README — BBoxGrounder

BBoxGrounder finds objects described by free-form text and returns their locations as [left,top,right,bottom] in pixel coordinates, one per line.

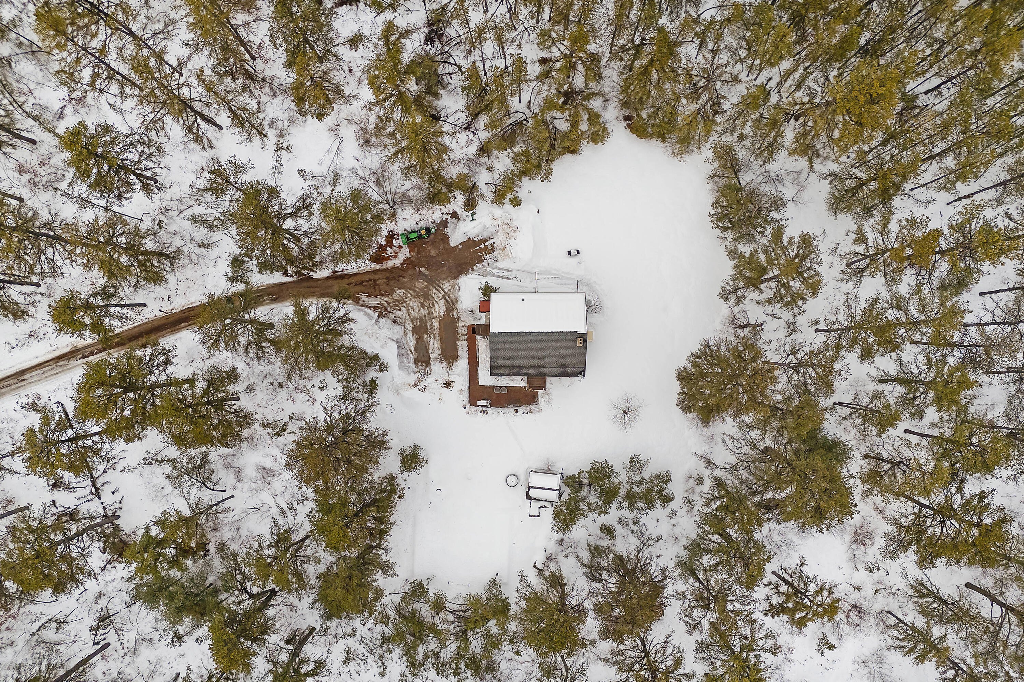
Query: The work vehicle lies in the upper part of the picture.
[401,224,436,246]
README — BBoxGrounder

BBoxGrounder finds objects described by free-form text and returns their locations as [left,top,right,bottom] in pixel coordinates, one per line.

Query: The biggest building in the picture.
[489,292,589,377]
